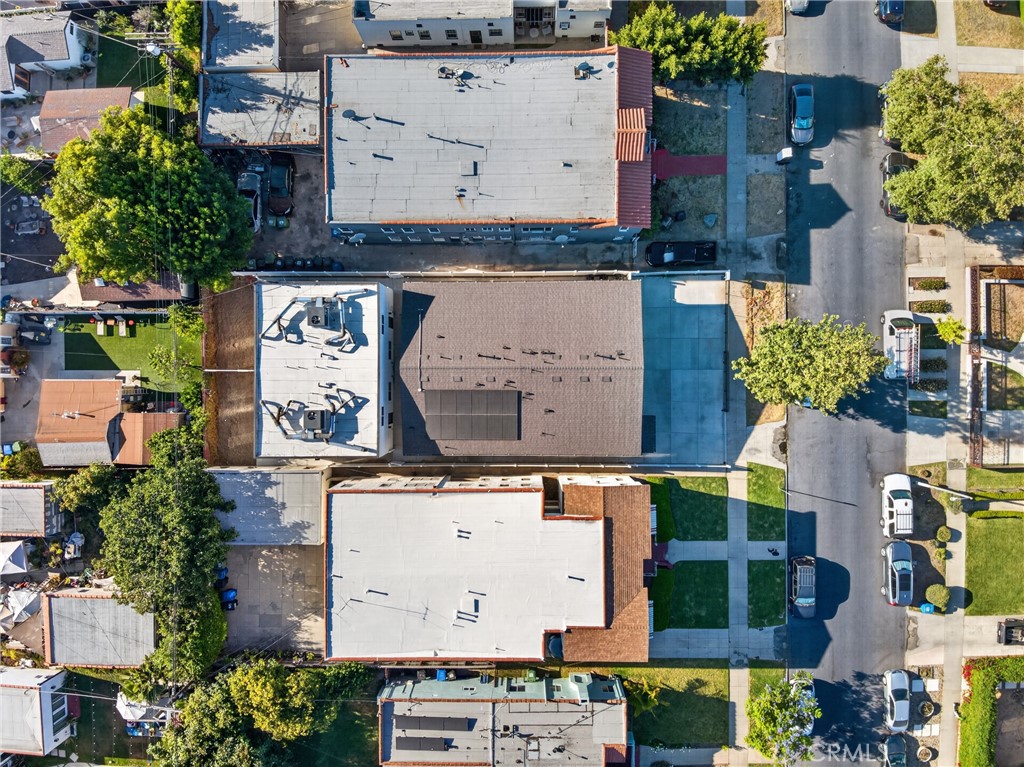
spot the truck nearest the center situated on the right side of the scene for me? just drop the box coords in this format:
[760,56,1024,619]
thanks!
[645,238,718,268]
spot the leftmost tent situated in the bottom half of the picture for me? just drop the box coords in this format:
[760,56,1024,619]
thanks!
[0,538,45,573]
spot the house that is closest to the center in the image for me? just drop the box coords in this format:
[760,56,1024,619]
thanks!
[398,278,646,460]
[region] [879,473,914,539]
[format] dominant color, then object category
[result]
white car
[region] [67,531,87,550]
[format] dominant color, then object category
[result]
blue umbrella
